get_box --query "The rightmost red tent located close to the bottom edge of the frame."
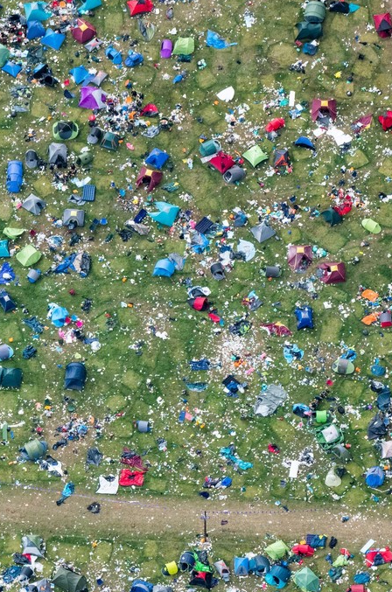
[363,548,392,567]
